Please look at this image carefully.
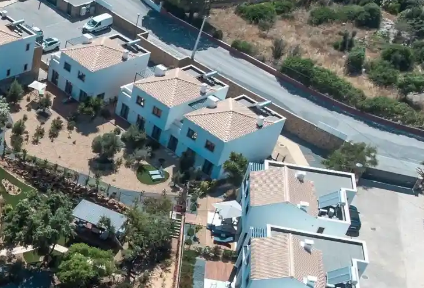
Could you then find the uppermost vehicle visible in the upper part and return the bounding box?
[85,9,114,30]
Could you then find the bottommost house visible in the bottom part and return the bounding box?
[228,225,369,288]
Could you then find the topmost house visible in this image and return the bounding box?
[39,0,96,19]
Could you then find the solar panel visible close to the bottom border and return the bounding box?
[331,259,361,286]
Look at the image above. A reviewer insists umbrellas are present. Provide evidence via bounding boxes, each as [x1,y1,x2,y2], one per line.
[210,197,242,222]
[28,82,45,92]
